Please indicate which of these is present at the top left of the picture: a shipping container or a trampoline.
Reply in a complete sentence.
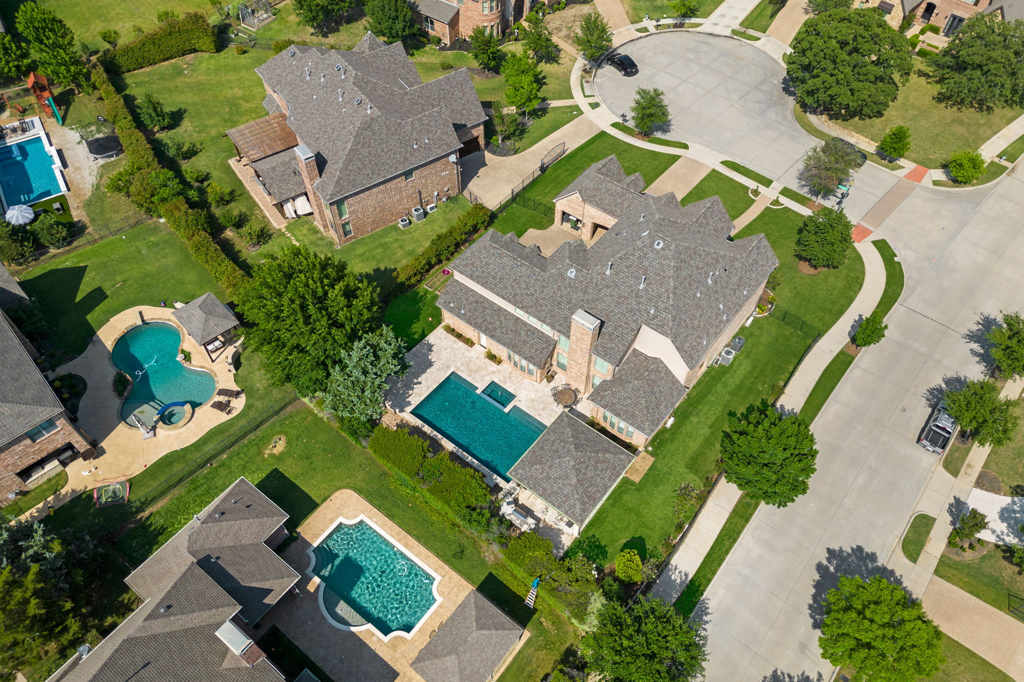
The feature located at the top left of the picture is a trampoline.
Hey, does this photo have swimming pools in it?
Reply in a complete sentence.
Yes, there's a swimming pool here.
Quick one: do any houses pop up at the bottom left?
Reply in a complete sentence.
Yes, a house shows up at the bottom left.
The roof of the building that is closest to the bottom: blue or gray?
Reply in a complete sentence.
From above, the roof of the building that is closest to the bottom appears gray.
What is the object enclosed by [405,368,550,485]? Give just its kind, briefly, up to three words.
swimming pool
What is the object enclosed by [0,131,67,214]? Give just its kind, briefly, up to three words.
swimming pool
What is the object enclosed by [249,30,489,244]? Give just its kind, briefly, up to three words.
house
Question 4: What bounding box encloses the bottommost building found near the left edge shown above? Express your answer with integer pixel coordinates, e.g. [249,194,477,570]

[44,476,302,682]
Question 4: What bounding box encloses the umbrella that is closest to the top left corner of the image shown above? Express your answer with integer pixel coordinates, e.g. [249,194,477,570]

[3,205,38,232]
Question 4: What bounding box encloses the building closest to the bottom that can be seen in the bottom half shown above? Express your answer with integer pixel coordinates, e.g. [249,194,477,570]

[408,588,530,682]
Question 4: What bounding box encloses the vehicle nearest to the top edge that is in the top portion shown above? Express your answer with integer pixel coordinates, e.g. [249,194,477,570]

[610,54,638,72]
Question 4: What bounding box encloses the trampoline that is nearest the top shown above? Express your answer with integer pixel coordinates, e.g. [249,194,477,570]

[78,114,123,155]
